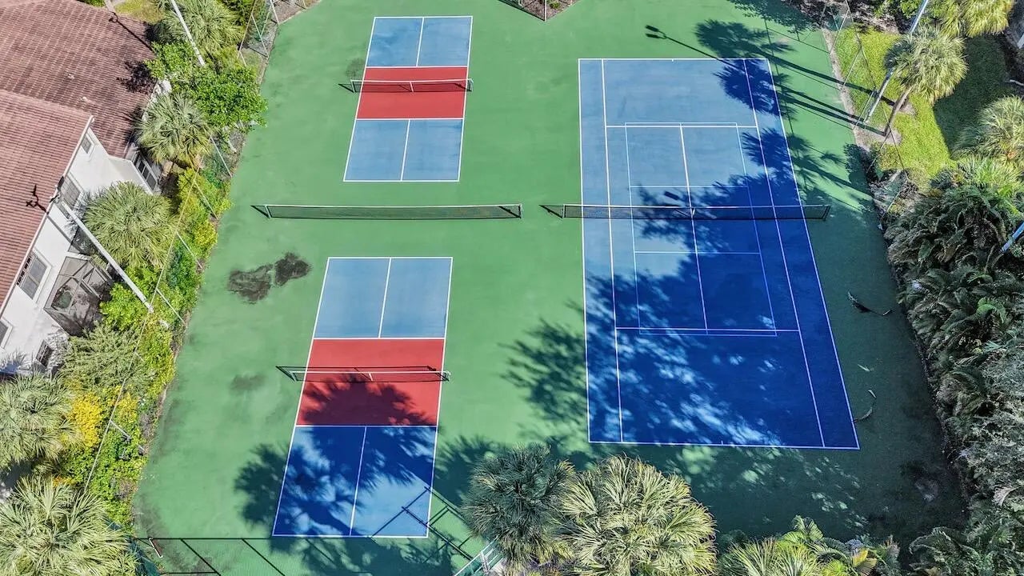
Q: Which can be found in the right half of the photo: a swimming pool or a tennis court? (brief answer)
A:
tennis court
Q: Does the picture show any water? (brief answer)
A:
No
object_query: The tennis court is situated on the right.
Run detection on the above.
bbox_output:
[579,59,857,447]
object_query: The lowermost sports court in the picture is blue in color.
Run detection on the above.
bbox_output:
[274,257,452,538]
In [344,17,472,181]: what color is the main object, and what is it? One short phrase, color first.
blue sports court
